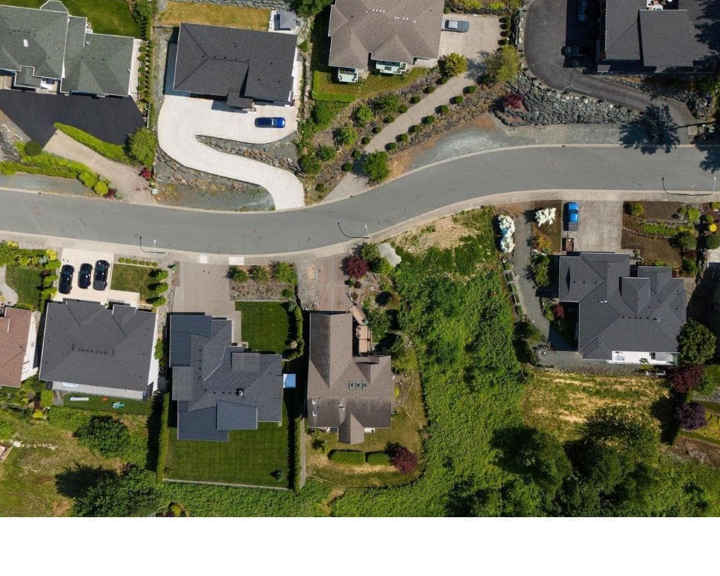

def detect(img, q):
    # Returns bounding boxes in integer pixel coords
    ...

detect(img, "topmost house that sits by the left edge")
[0,2,138,97]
